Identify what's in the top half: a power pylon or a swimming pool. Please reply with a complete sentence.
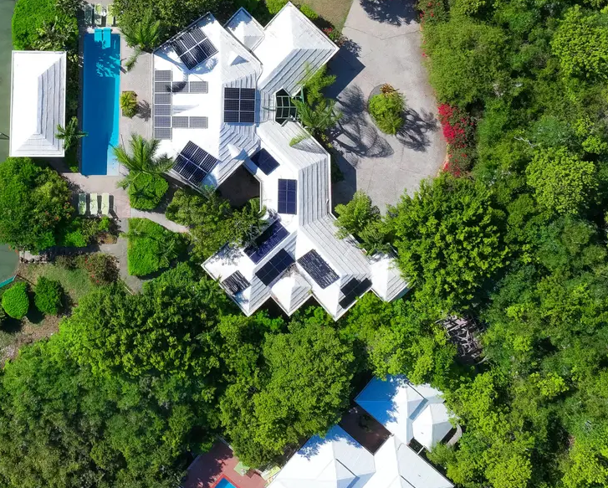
You can see a swimming pool in the top half.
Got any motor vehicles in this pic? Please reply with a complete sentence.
No, I find no motor vehicle anywhere in the image.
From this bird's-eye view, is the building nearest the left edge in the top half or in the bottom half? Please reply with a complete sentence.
Seen from above, the building nearest the left edge lies in the top half of the view.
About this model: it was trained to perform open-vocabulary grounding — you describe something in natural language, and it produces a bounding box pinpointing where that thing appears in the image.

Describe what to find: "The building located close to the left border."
[8,49,69,159]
